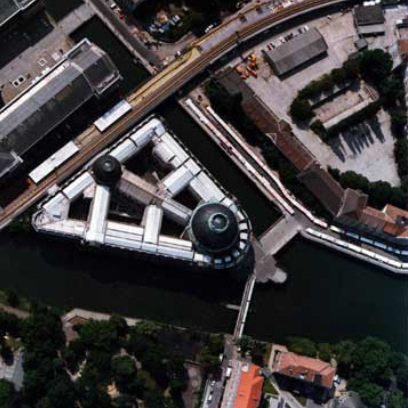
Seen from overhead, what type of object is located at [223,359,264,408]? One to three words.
house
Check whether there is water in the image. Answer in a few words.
Yes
